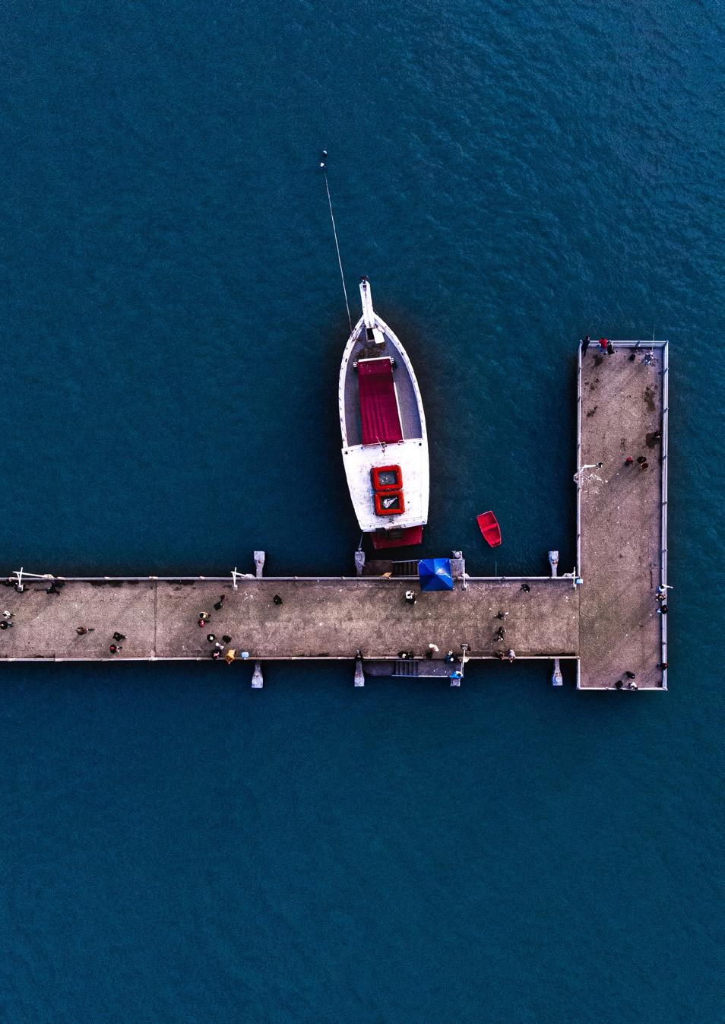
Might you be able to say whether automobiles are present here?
No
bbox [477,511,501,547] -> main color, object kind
red boat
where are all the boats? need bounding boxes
[339,276,429,549]
[477,511,501,547]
